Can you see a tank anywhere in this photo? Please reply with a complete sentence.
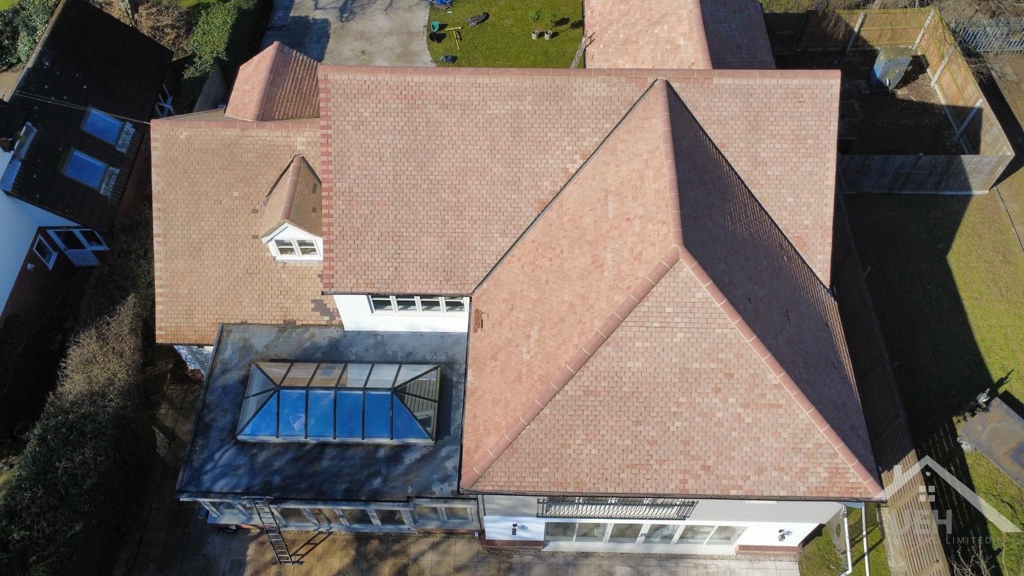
Yes, you can see a tank in this photo.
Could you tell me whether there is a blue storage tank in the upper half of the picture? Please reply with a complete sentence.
No, I see no blue storage tank in the upper half of the picture.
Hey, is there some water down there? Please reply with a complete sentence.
No, there's no water in this view.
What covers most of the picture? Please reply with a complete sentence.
The largest share of the image is taken up by buildings.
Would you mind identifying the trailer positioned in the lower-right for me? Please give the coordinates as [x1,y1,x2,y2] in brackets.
[952,387,1024,493]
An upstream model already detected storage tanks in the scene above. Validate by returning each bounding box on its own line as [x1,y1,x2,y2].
[865,35,914,91]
